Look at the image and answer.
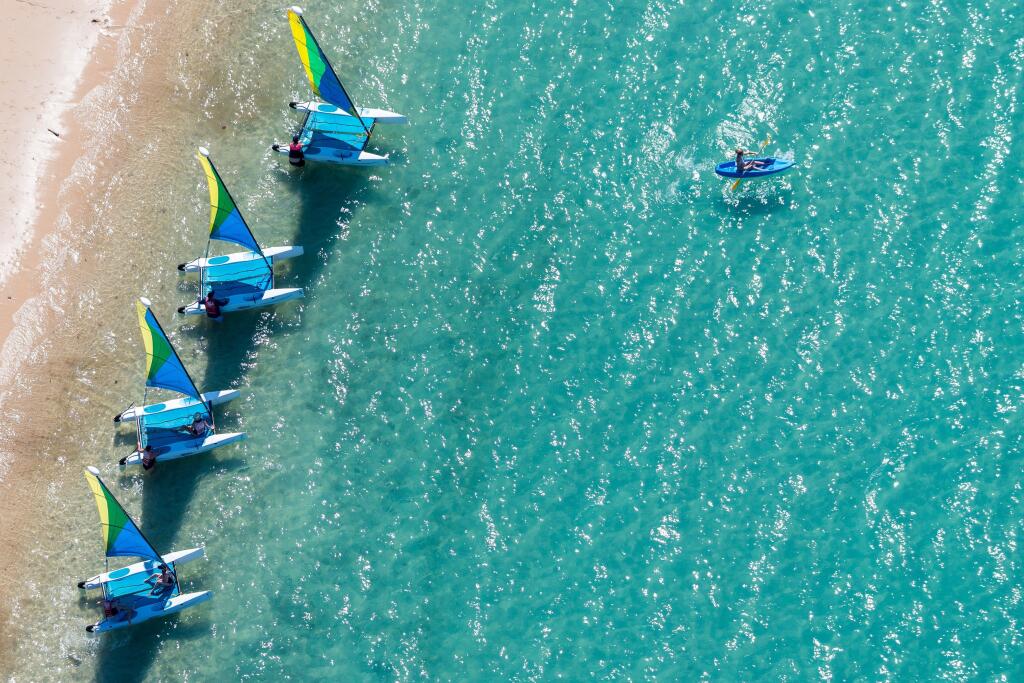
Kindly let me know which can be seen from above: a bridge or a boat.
boat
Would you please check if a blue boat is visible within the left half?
Yes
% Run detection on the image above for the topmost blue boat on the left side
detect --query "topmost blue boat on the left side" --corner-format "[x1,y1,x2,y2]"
[274,7,407,167]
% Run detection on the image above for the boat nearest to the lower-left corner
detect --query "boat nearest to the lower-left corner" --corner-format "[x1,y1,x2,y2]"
[77,468,217,637]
